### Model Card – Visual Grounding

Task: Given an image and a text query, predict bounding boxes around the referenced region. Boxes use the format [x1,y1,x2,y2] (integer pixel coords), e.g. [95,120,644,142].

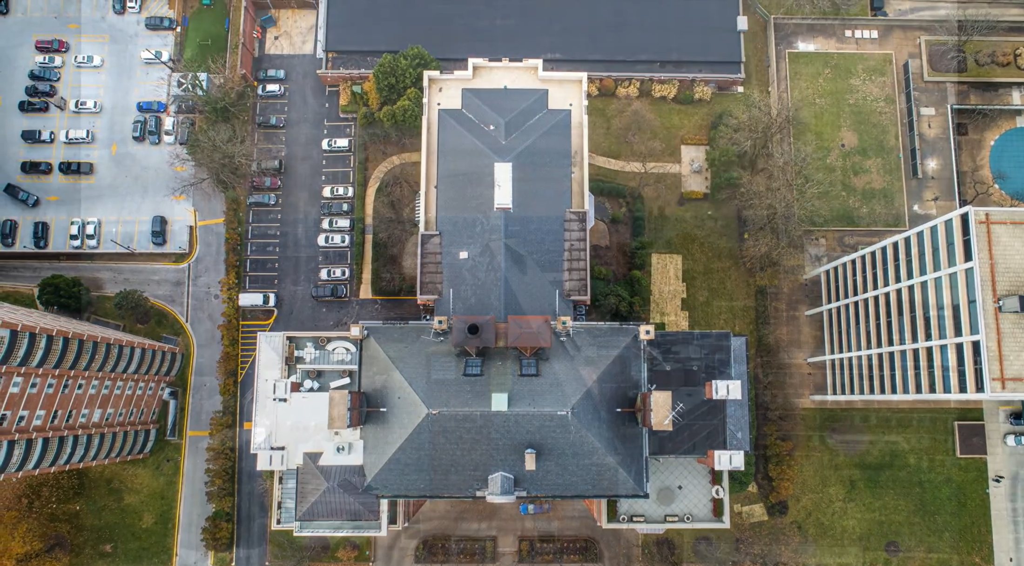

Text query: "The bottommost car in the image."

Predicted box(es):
[520,502,551,517]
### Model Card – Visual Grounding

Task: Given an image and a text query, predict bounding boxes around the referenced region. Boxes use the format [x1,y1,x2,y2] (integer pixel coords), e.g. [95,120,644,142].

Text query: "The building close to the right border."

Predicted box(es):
[806,205,1024,407]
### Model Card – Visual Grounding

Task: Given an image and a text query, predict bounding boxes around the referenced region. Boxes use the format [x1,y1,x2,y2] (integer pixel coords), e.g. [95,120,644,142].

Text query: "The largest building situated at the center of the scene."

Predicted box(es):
[250,58,750,537]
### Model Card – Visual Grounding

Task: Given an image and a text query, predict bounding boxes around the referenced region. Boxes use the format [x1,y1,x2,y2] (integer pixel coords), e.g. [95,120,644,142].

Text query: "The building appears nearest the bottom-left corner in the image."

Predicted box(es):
[0,301,184,486]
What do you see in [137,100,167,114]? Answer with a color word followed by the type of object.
blue car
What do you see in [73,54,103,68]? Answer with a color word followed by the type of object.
white car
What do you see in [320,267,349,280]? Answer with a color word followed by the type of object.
white vehicle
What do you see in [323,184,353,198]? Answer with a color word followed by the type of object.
white car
